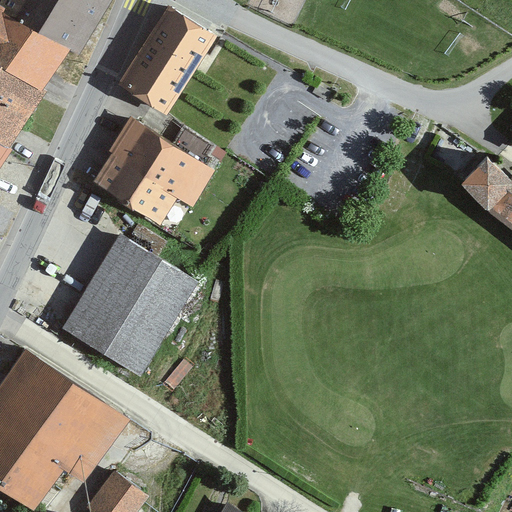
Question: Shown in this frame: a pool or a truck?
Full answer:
Looking from above, you can make out a truck.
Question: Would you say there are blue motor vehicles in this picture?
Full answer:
Yes, a blue motor vehicle is visible in the scene.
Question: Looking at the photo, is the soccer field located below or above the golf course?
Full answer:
As seen from overhead, the soccer field falls above the golf course in the picture.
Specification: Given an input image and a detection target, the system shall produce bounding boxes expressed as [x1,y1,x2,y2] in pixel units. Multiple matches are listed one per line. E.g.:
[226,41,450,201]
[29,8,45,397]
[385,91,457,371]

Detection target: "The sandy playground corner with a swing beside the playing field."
[242,0,306,24]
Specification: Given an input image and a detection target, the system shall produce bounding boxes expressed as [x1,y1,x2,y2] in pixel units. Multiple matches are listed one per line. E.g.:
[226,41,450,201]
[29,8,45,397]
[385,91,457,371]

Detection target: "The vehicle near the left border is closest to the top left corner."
[12,141,34,160]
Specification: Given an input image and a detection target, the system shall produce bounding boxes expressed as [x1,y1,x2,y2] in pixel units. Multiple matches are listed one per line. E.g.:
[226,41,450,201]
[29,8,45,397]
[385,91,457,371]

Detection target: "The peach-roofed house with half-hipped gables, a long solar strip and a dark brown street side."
[118,4,218,113]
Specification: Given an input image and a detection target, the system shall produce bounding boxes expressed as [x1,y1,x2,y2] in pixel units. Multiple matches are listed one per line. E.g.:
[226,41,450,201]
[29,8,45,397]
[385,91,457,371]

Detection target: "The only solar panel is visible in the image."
[175,54,202,92]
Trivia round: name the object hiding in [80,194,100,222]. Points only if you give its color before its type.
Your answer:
white vehicle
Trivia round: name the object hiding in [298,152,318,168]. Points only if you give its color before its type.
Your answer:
white car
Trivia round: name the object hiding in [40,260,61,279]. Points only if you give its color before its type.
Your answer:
white work vehicle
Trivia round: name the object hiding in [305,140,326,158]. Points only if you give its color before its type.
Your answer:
gray car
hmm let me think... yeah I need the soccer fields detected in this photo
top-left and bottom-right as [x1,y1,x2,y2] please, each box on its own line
[291,0,512,82]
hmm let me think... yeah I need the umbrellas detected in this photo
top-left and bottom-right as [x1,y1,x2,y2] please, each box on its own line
[167,206,184,223]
